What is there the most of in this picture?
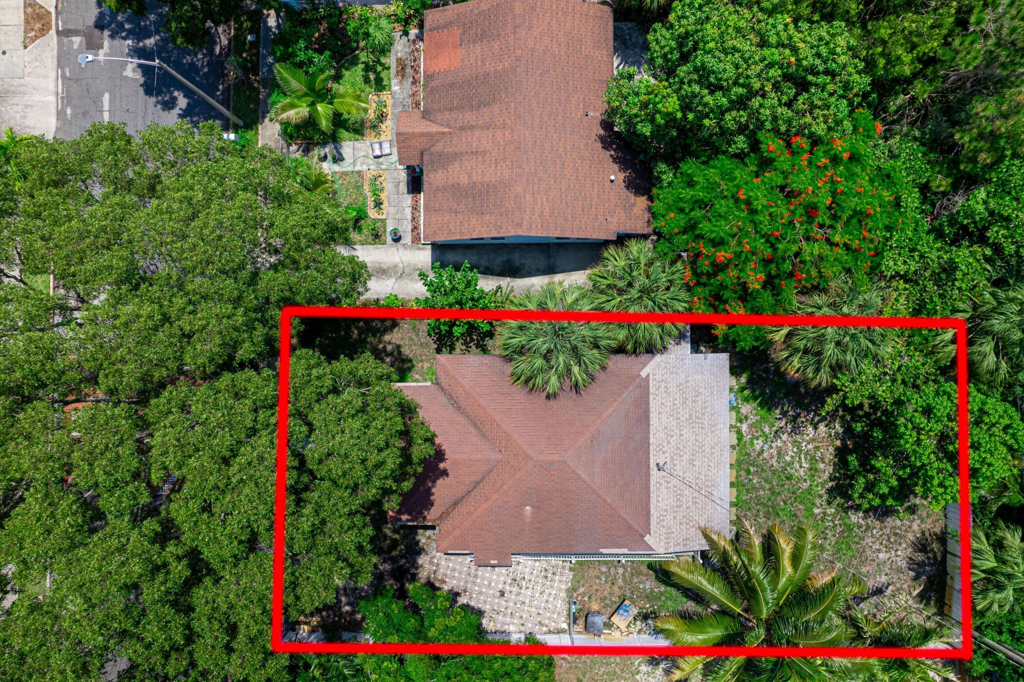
trees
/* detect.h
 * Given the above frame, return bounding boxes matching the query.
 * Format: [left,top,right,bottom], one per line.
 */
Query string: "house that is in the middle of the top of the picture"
[395,0,653,245]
